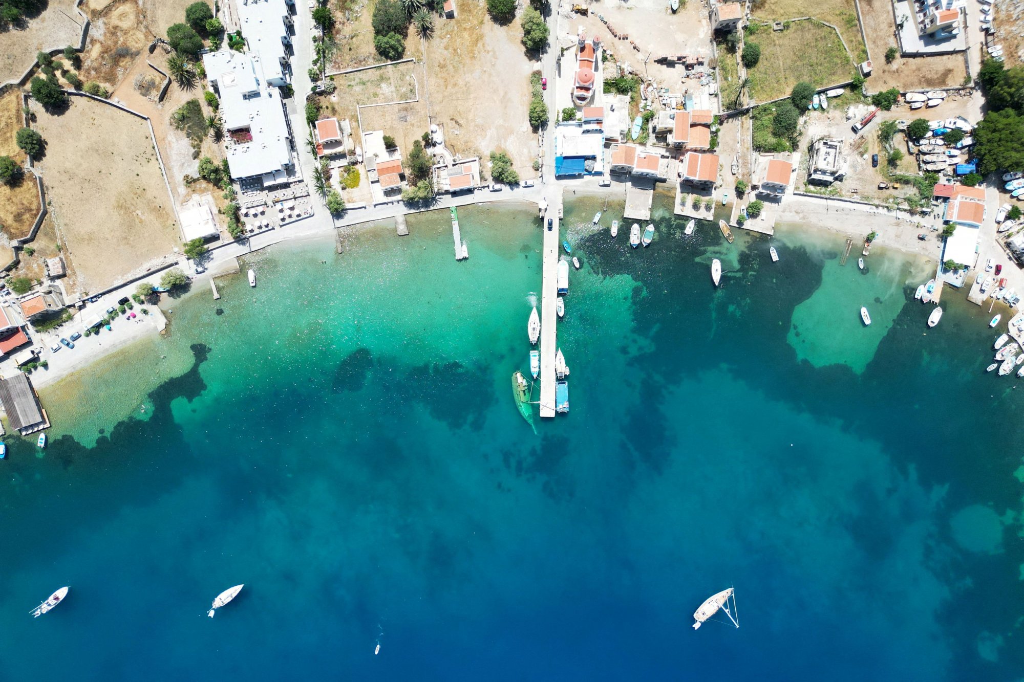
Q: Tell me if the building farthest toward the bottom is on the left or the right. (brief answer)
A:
left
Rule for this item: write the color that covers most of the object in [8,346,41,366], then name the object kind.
white vehicle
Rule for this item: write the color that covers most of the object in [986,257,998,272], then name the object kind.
white vehicle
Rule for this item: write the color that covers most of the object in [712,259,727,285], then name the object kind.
white boat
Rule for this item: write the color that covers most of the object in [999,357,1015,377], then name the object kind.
white boat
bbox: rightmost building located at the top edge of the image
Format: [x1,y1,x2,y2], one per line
[902,0,968,46]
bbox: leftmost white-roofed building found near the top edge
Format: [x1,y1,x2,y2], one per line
[202,0,295,192]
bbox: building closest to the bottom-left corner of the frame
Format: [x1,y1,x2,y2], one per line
[0,373,54,435]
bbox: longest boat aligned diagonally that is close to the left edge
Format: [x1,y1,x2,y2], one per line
[27,588,68,617]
